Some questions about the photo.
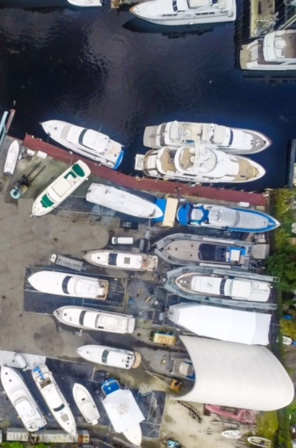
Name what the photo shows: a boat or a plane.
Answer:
boat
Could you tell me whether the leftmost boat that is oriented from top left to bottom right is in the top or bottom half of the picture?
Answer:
bottom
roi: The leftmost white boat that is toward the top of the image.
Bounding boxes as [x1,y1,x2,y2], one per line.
[3,140,20,177]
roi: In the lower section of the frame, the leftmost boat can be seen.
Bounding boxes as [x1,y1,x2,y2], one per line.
[2,366,52,436]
